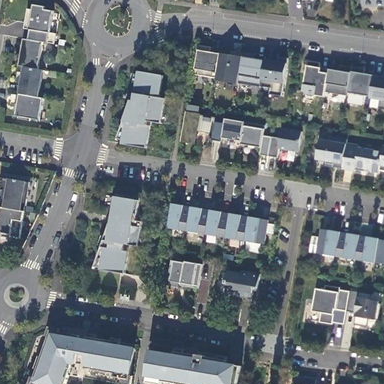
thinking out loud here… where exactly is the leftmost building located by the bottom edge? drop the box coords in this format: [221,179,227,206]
[24,326,138,384]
